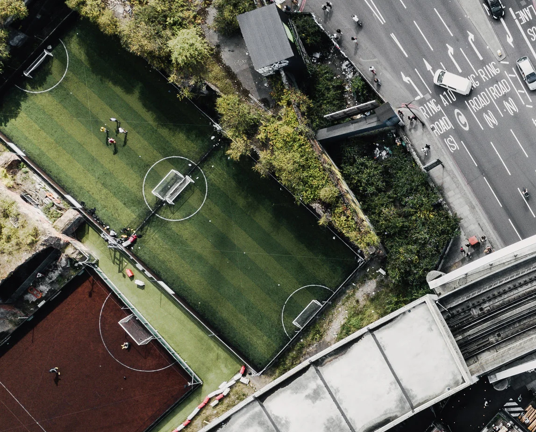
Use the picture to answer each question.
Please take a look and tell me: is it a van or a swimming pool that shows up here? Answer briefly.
van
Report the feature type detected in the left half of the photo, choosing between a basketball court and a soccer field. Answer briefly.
soccer field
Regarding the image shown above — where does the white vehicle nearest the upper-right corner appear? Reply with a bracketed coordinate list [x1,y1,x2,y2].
[515,52,536,95]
